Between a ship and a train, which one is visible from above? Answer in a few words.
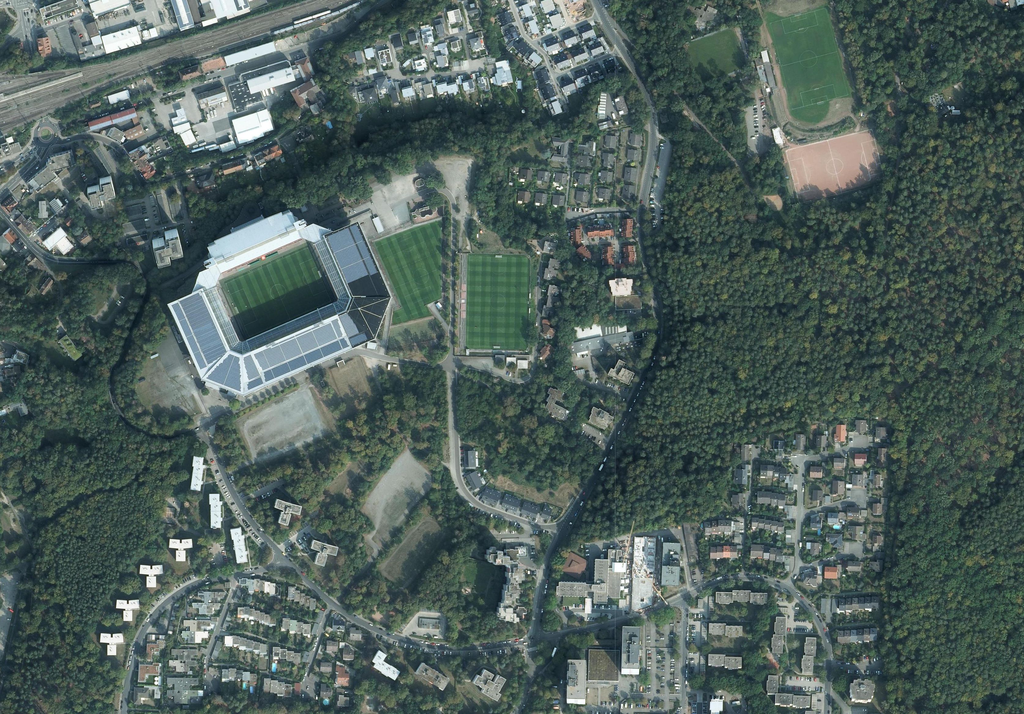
train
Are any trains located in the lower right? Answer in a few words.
No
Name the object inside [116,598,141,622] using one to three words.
building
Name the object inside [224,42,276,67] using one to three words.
shed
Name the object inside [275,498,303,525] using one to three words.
building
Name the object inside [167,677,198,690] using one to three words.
house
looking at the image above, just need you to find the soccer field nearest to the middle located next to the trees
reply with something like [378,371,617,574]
[465,254,530,350]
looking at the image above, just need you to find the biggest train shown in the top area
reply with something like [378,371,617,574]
[273,1,362,34]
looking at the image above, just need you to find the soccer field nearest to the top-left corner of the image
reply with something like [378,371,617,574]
[222,246,334,339]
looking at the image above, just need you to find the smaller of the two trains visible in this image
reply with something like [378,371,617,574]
[295,11,331,24]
